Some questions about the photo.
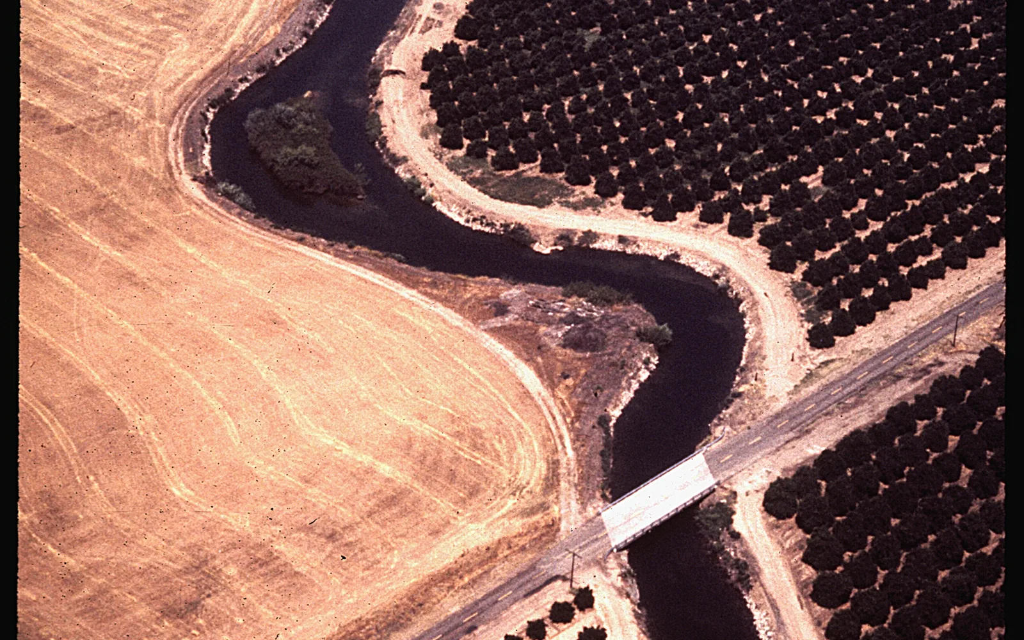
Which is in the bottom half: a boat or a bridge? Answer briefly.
bridge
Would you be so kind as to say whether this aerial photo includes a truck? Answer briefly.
No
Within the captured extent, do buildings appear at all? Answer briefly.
No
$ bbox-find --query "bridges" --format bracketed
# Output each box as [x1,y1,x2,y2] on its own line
[601,450,717,553]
